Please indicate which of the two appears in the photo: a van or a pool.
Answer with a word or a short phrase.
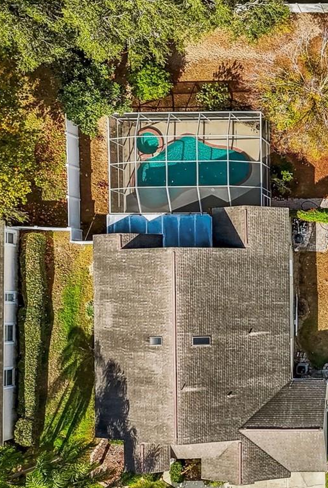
pool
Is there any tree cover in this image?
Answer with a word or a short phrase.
Yes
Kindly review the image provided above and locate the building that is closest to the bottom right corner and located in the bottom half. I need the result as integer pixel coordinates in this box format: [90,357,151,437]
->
[92,206,328,485]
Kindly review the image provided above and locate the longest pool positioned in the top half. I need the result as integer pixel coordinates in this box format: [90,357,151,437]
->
[132,133,254,210]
